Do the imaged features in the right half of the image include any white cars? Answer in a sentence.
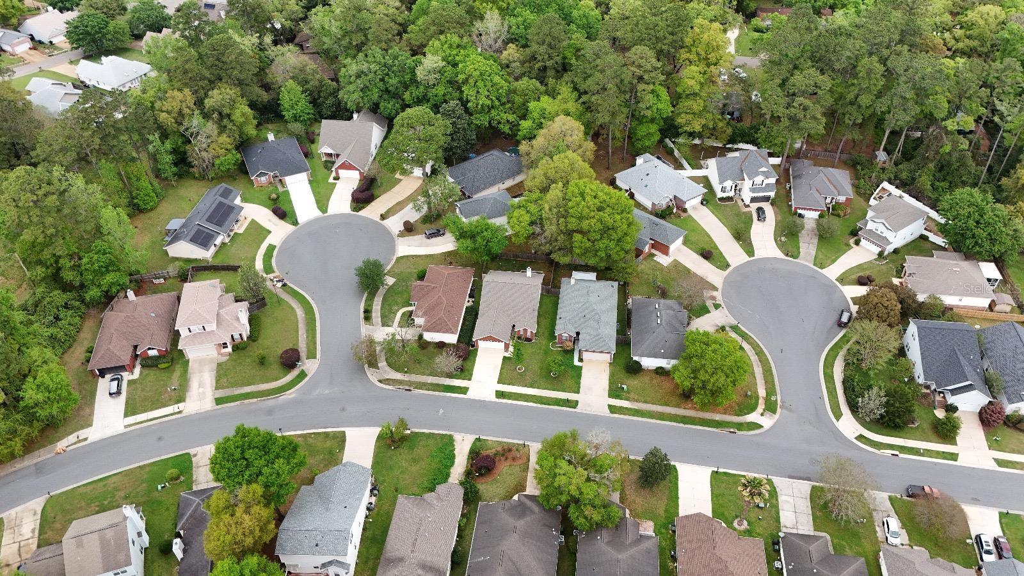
Yes, a white car can be seen in the right half of the image.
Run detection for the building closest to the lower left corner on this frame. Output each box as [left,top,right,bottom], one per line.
[21,501,151,576]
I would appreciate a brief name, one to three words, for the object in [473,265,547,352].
house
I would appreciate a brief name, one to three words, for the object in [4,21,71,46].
house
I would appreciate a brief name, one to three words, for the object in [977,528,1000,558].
car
